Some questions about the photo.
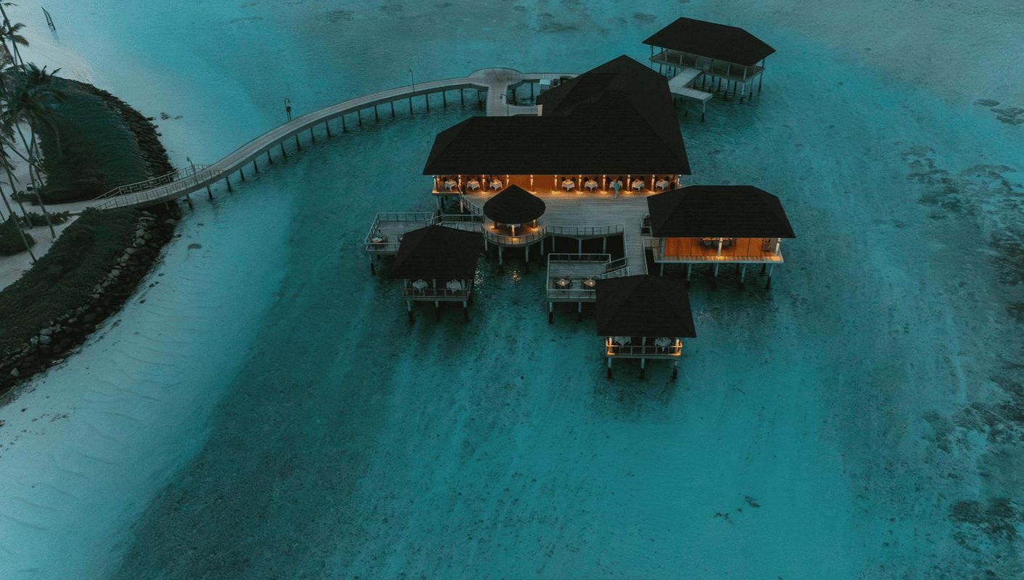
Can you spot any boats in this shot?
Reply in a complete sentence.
No, there is no boat in the image.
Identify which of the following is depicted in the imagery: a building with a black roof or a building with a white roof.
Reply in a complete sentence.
It is a building with a black roof that can be seen here.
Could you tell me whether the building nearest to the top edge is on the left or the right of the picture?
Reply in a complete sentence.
You can find the building nearest to the top edge on the right side of the picture.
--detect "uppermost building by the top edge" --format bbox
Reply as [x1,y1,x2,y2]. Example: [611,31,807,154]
[642,16,773,105]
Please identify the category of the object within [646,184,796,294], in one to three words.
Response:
building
